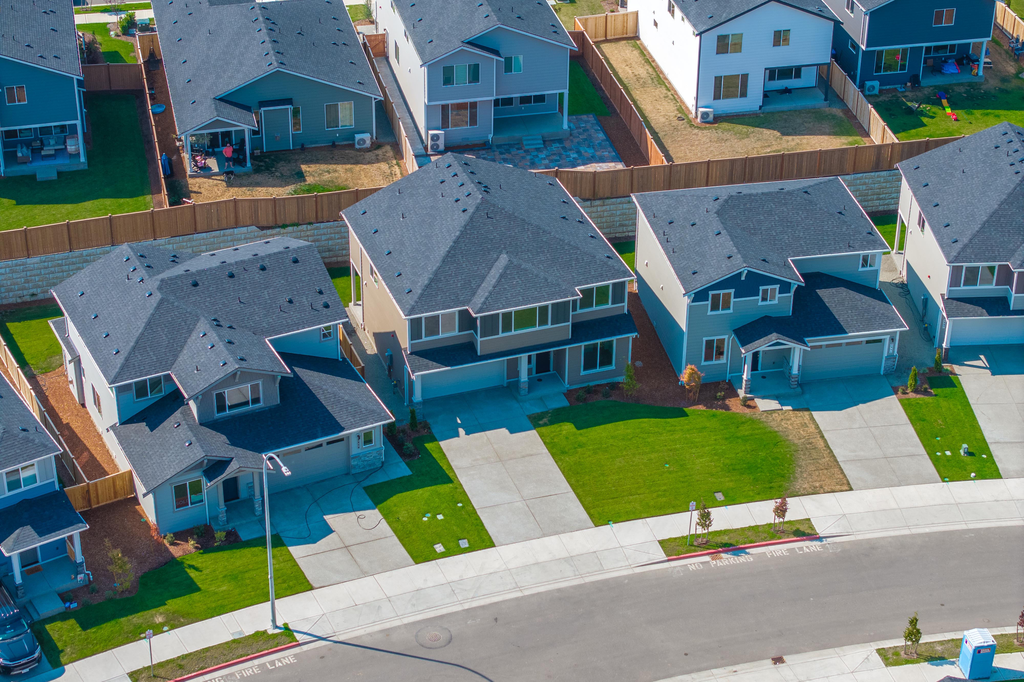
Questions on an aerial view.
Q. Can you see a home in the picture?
Yes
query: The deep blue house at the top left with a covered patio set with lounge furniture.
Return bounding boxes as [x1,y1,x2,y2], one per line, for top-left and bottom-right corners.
[0,0,87,179]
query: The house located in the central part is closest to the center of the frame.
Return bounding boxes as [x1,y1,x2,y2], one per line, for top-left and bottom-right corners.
[339,152,641,420]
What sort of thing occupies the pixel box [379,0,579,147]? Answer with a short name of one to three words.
house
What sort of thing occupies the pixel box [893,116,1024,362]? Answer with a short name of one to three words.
house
